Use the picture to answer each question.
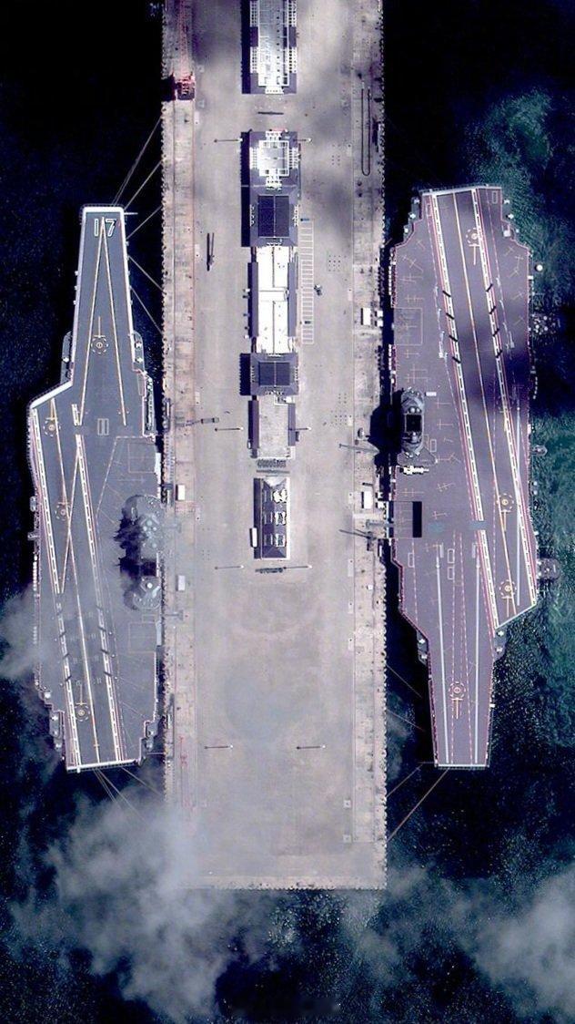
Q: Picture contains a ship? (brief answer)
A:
Yes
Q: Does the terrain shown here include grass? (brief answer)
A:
No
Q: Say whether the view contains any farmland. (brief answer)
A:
No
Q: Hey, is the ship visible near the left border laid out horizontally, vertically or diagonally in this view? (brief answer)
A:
vertically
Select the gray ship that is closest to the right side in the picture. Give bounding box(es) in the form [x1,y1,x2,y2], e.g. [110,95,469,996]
[389,183,559,769]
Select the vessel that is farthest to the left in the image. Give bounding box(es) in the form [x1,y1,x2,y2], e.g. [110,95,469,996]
[28,203,164,773]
